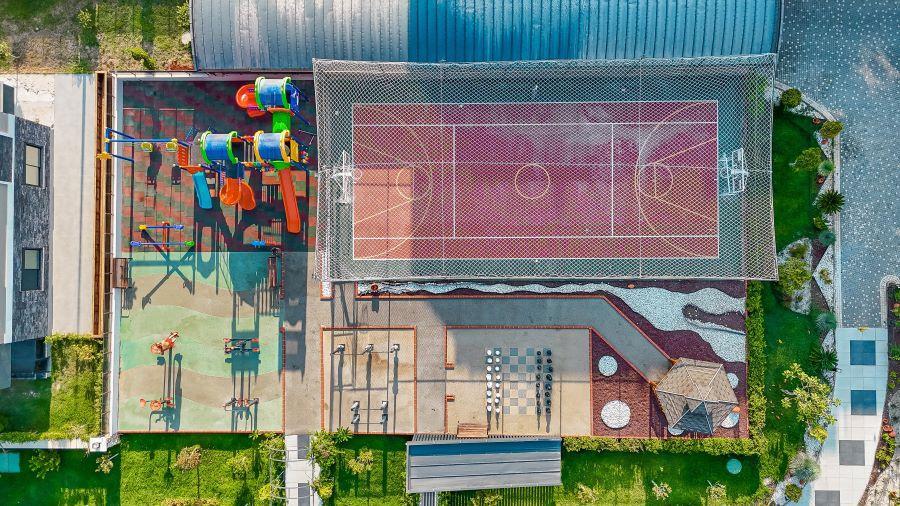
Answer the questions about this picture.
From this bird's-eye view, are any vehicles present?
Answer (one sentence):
No, the picture doesn't show any vehicle.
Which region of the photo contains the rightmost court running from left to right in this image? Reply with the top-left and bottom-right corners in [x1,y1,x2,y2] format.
[329,79,745,280]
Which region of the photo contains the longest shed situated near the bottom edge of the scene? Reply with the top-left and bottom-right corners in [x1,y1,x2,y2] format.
[406,429,562,490]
